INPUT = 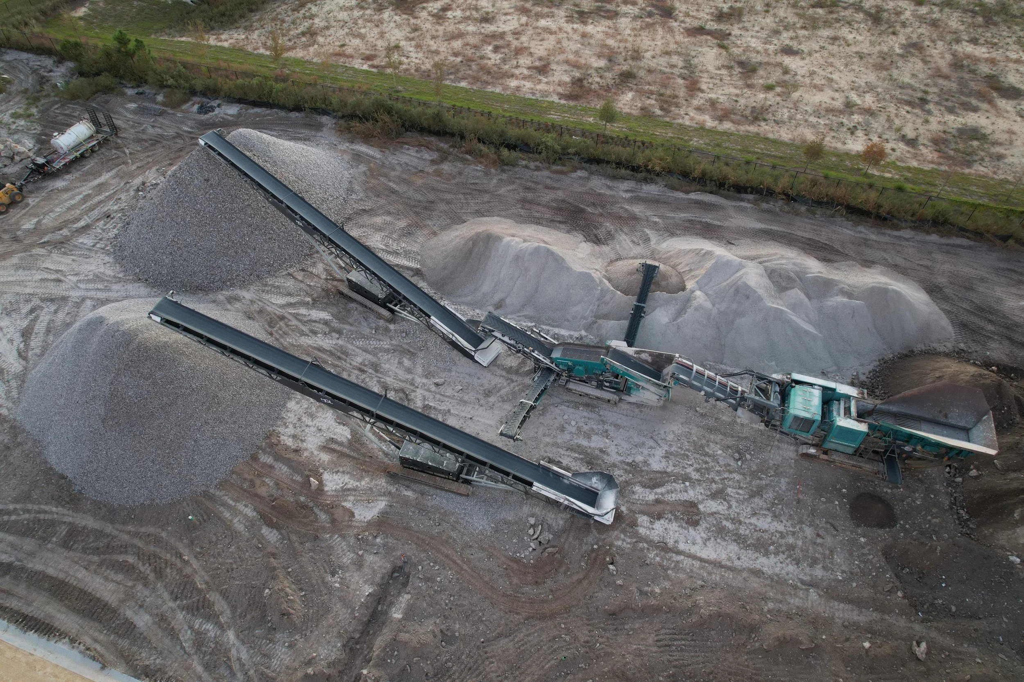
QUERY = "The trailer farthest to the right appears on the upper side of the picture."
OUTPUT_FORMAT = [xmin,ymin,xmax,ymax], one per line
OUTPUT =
[12,113,123,187]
